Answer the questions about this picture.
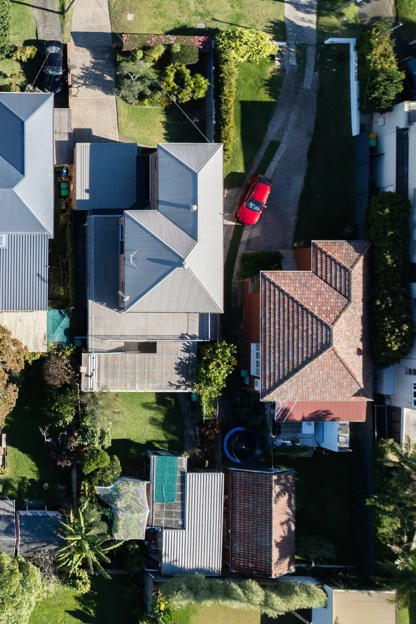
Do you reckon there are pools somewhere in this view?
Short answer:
No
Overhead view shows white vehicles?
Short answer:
No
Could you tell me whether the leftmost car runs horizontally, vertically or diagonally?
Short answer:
vertically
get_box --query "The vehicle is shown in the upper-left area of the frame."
[41,39,67,93]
